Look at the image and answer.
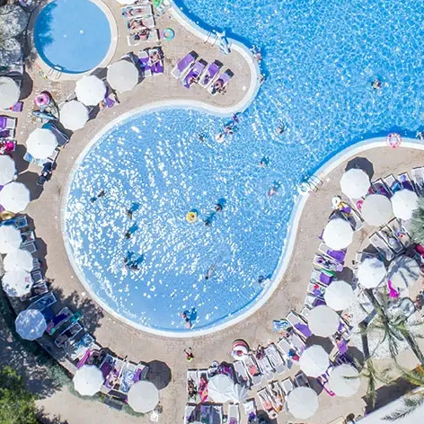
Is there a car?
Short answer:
No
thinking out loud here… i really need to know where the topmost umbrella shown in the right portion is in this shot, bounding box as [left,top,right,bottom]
[338,166,370,197]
